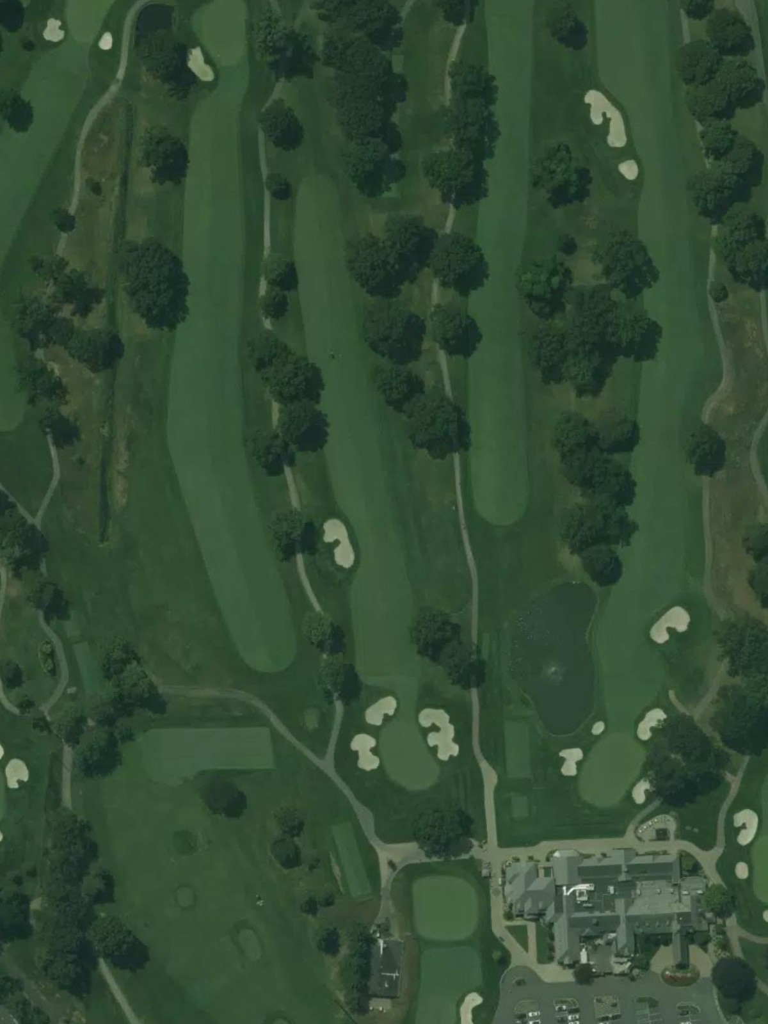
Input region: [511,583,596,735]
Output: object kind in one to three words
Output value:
pond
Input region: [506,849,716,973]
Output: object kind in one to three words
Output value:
building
